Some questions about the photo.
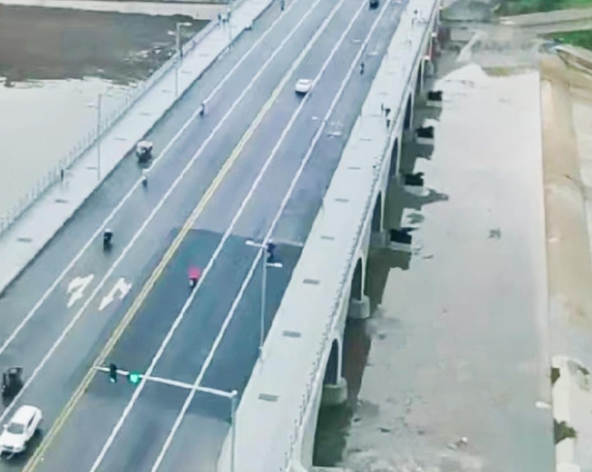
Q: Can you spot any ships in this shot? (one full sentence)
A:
No, I can't see a single ship in this photo.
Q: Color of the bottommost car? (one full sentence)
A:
In this view, the bottommost car is white.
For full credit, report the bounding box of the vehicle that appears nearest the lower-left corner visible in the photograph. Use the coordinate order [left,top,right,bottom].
[0,398,45,450]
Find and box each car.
[295,79,314,94]
[368,0,381,8]
[0,398,45,450]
